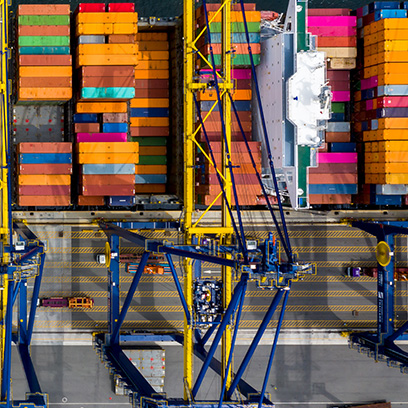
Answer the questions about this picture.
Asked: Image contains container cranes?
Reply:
Yes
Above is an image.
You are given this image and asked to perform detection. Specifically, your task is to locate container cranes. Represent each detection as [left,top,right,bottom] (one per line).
[0,0,55,408]
[91,0,317,408]
[341,219,408,369]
